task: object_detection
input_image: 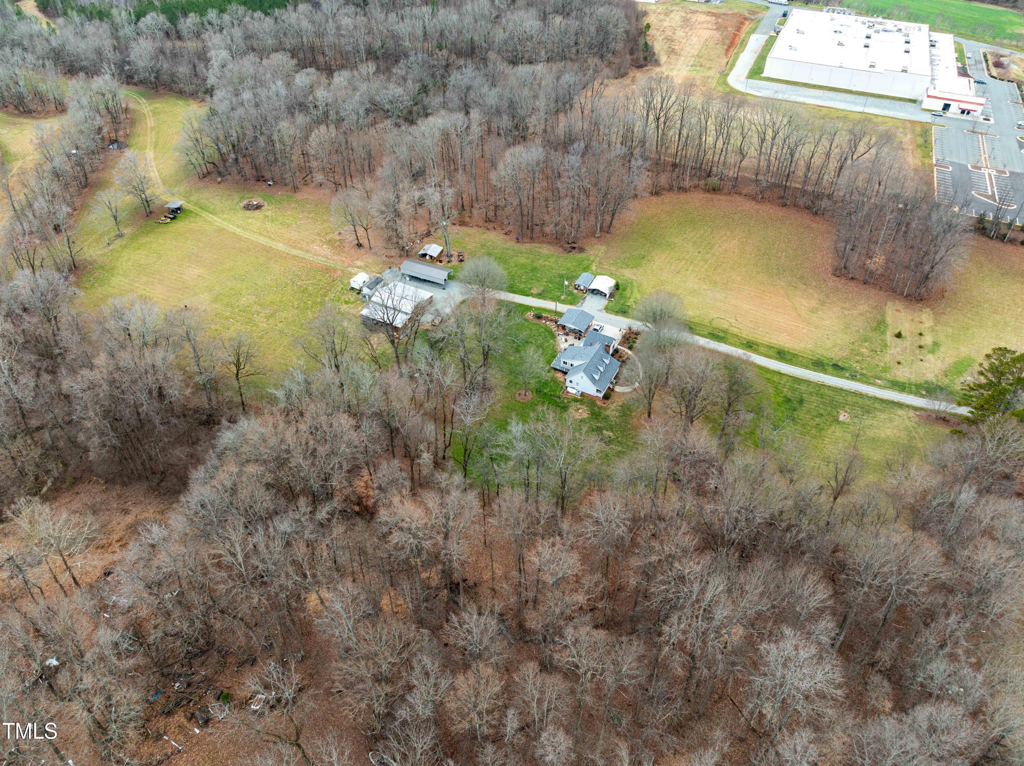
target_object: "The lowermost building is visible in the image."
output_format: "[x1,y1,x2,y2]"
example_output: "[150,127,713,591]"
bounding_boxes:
[551,329,622,400]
